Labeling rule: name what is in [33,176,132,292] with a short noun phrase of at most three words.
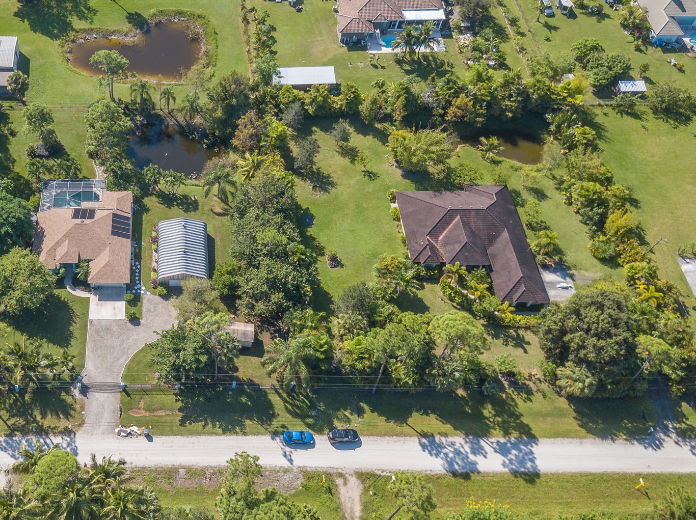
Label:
house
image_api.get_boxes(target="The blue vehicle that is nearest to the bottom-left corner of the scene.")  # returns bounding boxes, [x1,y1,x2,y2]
[283,430,316,448]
